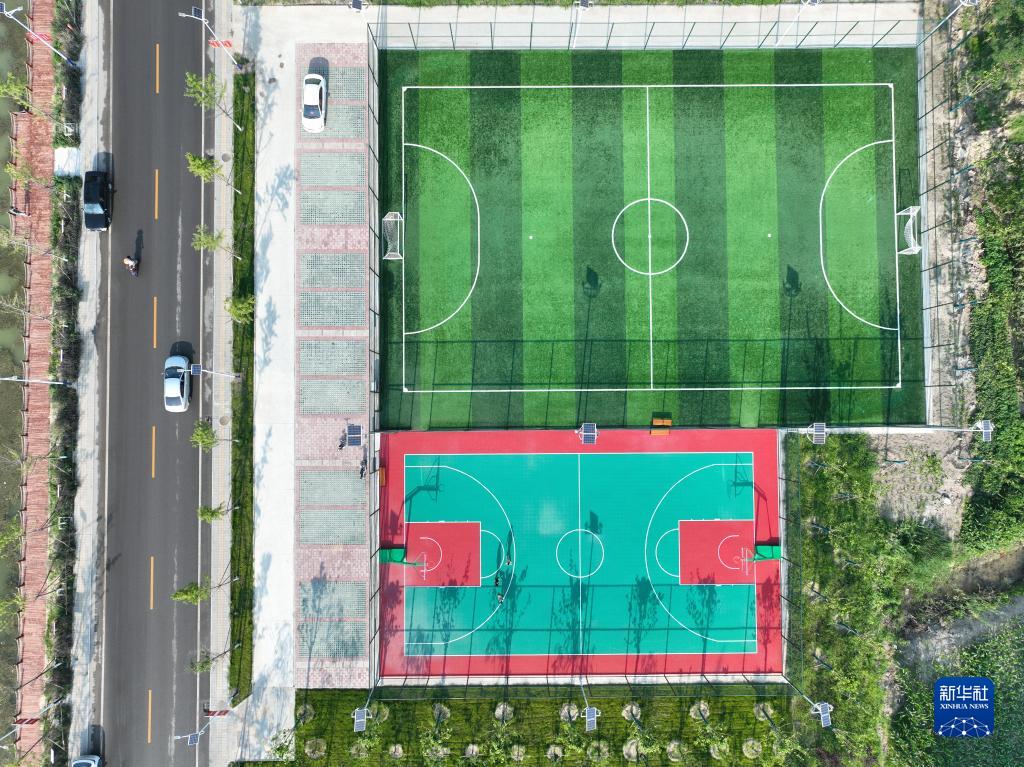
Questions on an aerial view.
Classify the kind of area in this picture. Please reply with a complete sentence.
This image shows a sports ground.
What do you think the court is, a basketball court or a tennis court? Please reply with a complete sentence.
It turns out the court is a basketball court.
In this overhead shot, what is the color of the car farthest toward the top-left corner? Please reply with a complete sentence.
From above, the car farthest toward the top-left corner appears black.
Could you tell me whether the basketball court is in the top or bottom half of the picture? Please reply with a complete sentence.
The bottom half of the photo is where the basketball court is.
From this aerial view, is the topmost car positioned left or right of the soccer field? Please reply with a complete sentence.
Looking at the picture, you'll find the topmost car to the left of the soccer field.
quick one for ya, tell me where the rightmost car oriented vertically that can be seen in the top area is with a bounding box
[301,74,328,135]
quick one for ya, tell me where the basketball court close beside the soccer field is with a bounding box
[380,431,785,677]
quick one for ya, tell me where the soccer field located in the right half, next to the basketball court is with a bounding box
[379,47,926,429]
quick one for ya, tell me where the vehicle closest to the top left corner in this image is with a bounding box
[83,171,115,232]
